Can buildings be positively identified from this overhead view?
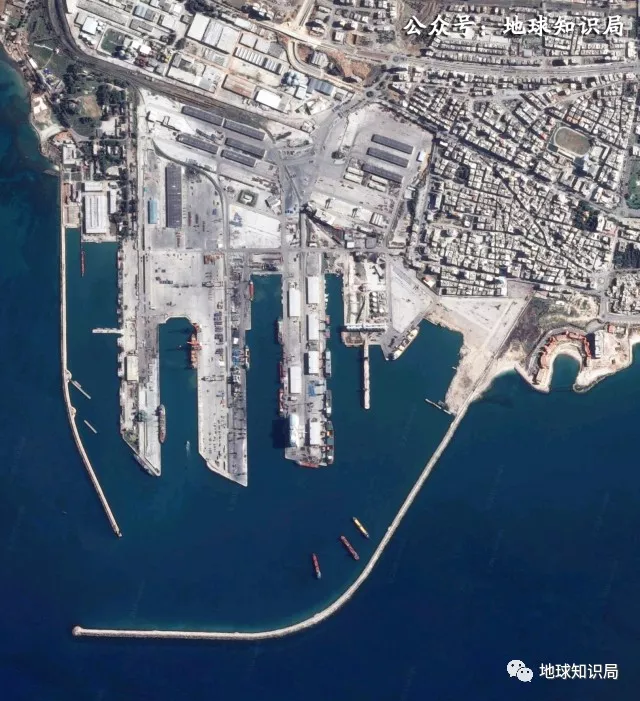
Yes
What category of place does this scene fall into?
port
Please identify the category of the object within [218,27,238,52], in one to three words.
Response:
building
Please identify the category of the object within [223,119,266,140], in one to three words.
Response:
building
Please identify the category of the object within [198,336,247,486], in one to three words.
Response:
pier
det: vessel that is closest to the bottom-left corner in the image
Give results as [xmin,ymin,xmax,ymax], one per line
[133,455,157,479]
